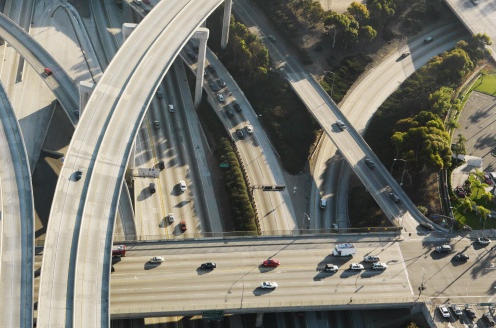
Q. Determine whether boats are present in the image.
No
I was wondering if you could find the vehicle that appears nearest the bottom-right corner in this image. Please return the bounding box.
[481,314,496,327]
